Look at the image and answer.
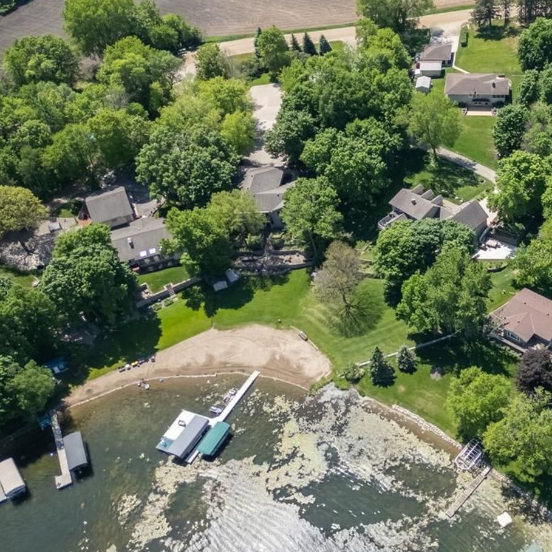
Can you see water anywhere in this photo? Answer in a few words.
Yes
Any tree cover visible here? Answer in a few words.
Yes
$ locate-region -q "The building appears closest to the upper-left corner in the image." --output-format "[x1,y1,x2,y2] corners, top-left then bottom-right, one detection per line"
[74,186,135,235]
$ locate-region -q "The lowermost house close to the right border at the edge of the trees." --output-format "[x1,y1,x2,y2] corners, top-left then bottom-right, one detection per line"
[485,288,552,359]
